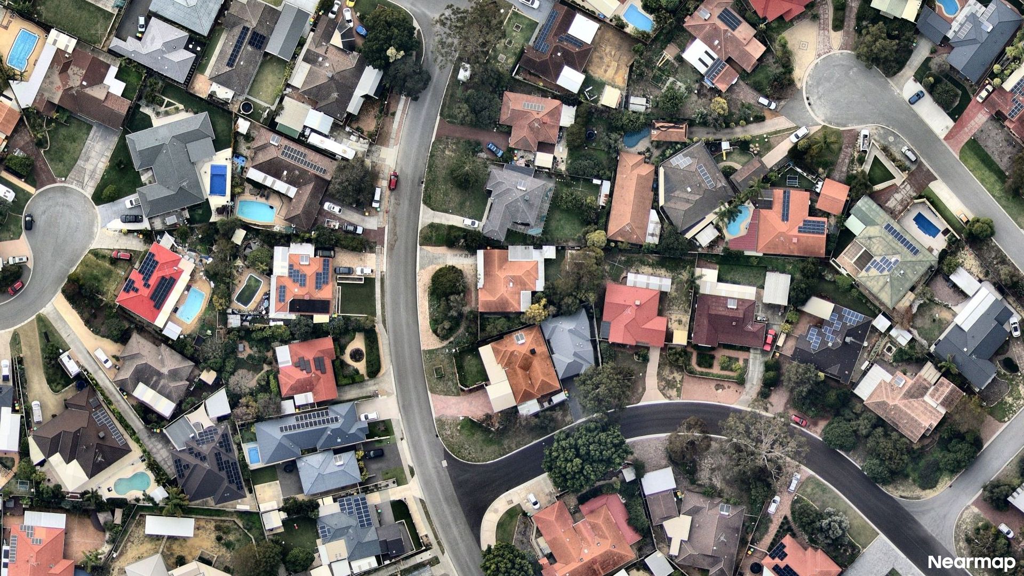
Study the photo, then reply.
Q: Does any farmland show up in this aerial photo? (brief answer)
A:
No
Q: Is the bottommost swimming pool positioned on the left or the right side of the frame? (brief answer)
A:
left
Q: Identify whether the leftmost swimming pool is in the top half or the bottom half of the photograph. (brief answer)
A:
top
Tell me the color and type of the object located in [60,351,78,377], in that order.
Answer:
white camper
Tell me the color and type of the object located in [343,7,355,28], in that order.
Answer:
white vehicle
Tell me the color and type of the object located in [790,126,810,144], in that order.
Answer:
white car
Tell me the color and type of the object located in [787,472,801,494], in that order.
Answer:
white car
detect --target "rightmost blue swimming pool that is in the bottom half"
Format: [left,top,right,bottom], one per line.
[247,446,260,464]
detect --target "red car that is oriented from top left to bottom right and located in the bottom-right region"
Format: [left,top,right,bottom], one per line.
[790,413,809,429]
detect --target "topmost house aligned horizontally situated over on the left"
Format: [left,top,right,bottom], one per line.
[147,0,225,35]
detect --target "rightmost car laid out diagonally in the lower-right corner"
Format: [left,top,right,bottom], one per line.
[998,522,1015,539]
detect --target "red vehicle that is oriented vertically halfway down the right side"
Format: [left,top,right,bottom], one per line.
[764,328,776,352]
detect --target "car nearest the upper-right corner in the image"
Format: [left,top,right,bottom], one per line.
[976,84,994,103]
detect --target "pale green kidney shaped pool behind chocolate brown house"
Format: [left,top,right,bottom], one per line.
[114,471,152,496]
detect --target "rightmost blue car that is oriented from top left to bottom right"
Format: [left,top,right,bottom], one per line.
[485,141,504,159]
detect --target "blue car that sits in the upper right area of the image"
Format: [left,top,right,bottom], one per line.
[908,90,926,105]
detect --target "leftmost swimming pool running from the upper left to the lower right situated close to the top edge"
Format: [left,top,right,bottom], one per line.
[623,4,652,31]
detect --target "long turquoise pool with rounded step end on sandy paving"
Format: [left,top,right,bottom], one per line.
[6,28,40,72]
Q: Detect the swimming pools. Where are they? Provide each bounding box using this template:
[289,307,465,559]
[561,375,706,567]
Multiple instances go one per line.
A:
[233,274,264,308]
[623,4,652,31]
[176,287,206,324]
[114,471,152,496]
[209,164,227,196]
[237,200,276,223]
[727,205,752,237]
[913,212,941,238]
[624,130,645,149]
[247,446,260,464]
[6,28,40,72]
[939,0,960,17]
